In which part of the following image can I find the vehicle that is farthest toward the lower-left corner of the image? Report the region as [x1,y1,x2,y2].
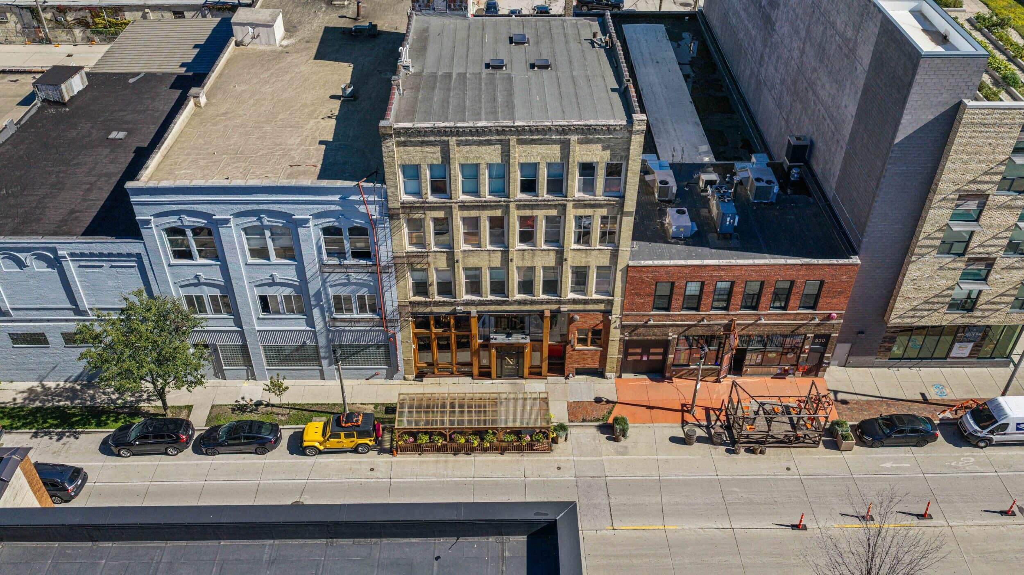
[27,464,91,507]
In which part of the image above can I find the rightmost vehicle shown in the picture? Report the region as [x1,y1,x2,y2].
[953,394,1024,449]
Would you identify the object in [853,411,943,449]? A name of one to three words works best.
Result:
car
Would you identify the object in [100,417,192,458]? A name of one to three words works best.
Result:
car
